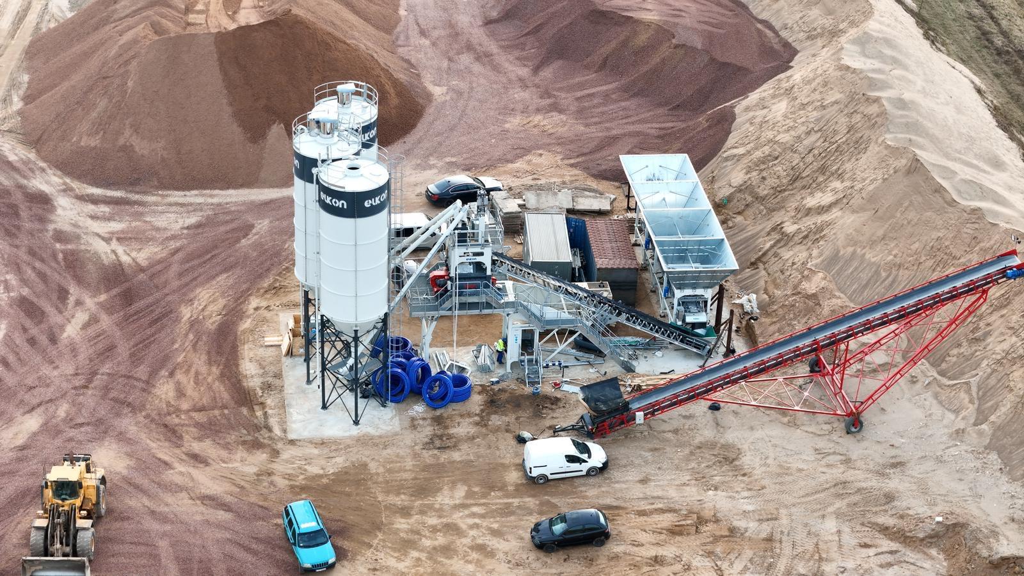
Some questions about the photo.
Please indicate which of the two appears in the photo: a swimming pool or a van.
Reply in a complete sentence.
Visible in the photo is a van.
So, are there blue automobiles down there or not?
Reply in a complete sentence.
Yes, a blue automobile appears in the view.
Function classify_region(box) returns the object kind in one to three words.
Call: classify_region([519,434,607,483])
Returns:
van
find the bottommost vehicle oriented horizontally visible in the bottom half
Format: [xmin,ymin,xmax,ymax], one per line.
[530,506,614,553]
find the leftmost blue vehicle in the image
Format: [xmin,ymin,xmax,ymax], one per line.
[286,496,334,574]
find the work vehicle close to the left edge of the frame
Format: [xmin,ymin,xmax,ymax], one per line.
[18,449,109,576]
